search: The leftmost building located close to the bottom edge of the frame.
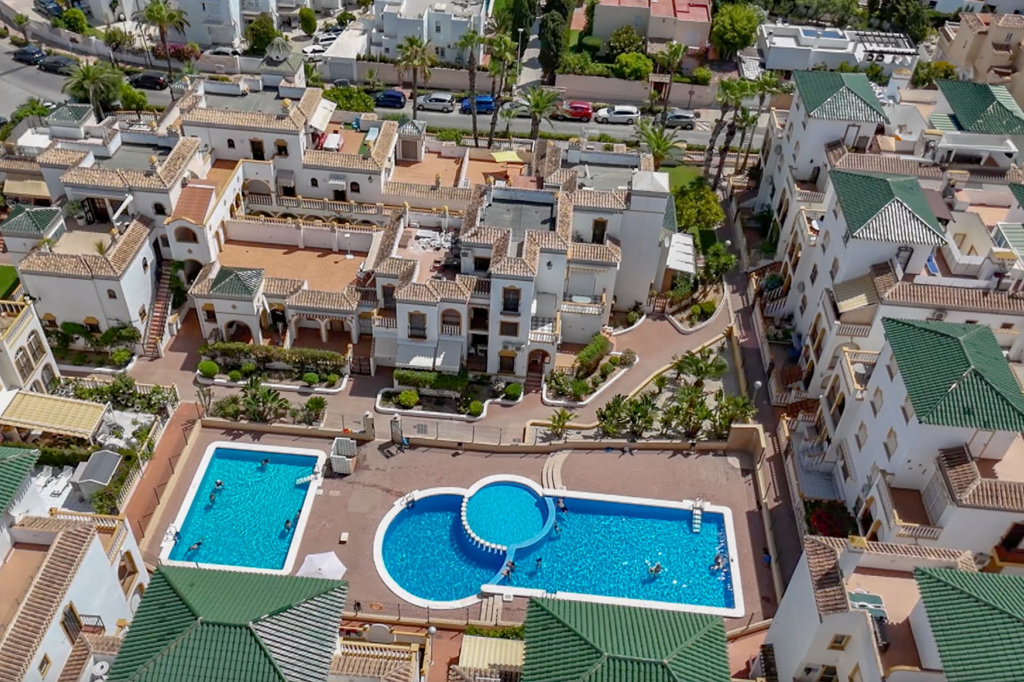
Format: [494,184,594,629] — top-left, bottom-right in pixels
[0,510,148,682]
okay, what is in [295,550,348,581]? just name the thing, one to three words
umbrella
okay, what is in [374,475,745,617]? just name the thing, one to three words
swimming pool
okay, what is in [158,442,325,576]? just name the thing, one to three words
swimming pool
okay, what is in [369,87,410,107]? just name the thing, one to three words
car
